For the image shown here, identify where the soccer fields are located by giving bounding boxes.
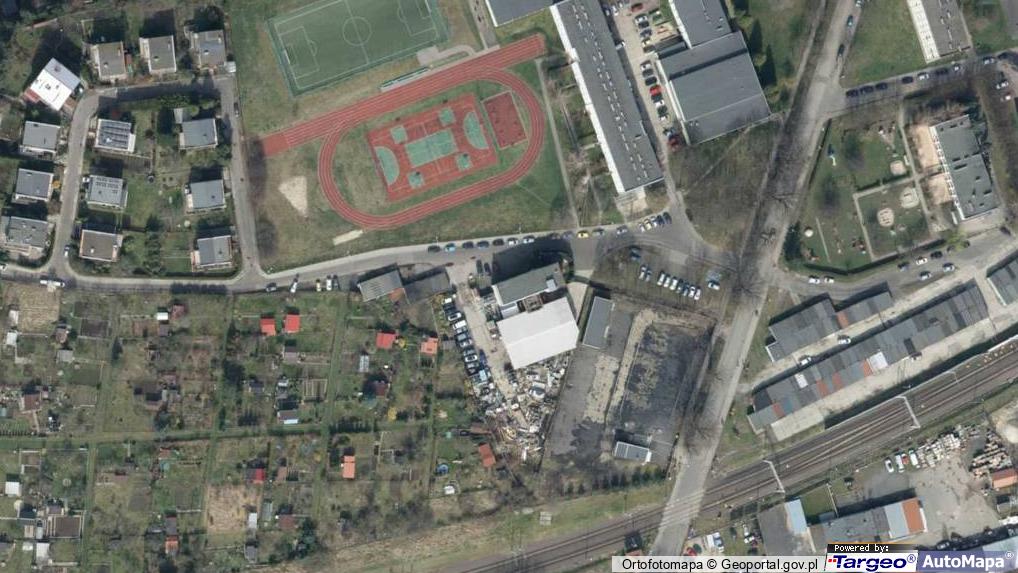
[266,0,448,96]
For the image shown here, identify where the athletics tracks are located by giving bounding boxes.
[261,35,551,226]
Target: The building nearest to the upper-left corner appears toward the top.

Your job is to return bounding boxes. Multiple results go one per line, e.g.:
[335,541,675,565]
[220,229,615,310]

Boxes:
[25,58,81,111]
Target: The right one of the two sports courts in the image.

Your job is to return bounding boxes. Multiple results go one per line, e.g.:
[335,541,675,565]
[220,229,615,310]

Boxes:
[480,91,527,150]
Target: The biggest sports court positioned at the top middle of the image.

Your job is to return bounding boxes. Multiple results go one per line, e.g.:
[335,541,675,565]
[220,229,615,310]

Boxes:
[368,92,499,202]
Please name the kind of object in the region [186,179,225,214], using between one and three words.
house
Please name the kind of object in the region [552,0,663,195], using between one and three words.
building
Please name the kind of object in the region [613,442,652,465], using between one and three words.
shed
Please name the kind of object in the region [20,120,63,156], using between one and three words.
house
